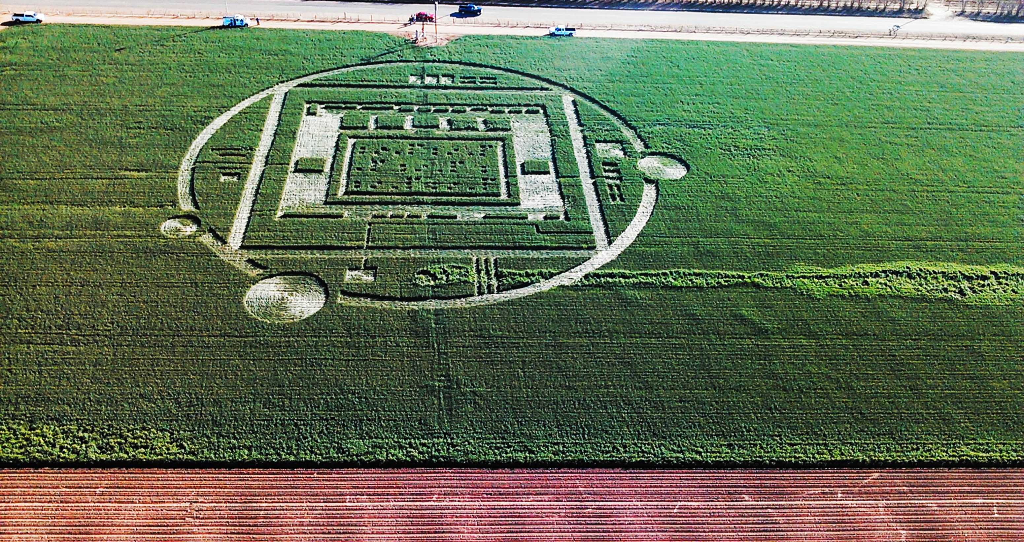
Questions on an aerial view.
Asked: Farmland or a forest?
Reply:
farmland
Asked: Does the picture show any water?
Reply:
No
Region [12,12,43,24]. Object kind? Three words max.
vehicle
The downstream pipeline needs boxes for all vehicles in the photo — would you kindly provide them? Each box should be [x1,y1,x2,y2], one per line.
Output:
[458,3,483,14]
[415,11,435,20]
[550,25,576,36]
[12,12,43,24]
[222,12,252,26]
